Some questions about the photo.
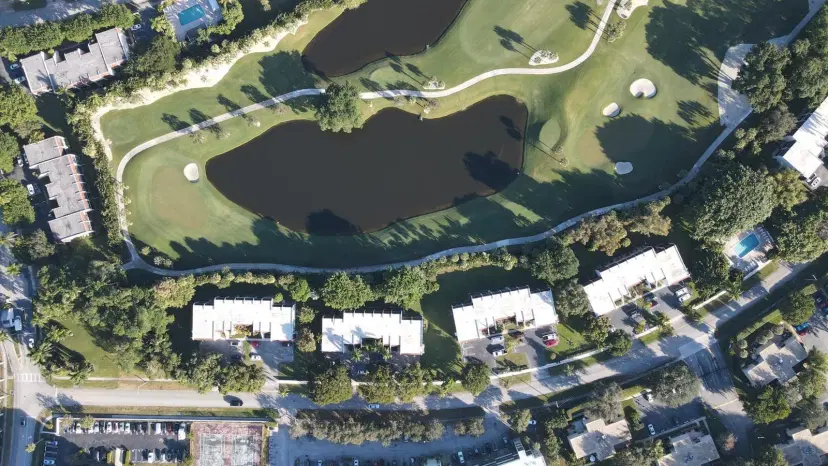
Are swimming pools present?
Yes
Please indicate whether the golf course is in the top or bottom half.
top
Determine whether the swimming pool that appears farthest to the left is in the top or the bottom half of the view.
top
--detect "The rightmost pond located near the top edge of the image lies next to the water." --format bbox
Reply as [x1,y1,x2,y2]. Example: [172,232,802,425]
[302,0,469,76]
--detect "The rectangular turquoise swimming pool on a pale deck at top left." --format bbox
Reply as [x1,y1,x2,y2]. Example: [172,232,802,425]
[163,0,222,41]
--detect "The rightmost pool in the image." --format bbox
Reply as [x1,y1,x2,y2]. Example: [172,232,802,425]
[726,227,777,279]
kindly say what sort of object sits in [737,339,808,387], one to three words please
house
